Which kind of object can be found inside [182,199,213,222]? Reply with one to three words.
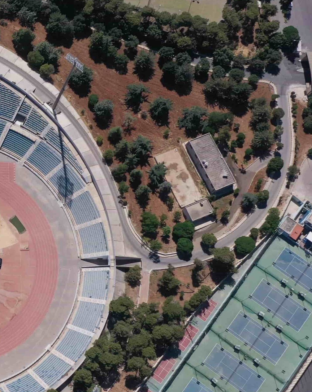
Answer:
shed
